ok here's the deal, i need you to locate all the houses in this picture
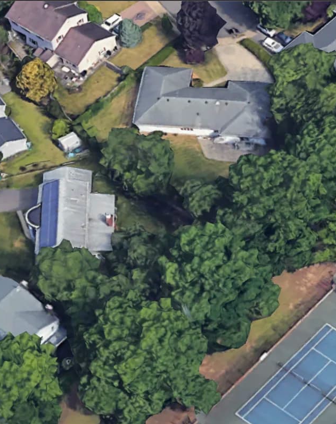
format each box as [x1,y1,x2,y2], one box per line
[290,16,336,61]
[0,97,27,164]
[134,67,269,145]
[5,0,119,76]
[0,274,66,345]
[16,166,115,262]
